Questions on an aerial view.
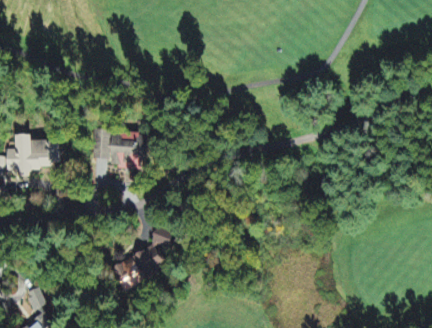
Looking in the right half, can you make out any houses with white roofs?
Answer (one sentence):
No, no house with a white roof is visible in the right half.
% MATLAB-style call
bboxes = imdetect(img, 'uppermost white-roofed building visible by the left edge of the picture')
[0,134,60,180]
